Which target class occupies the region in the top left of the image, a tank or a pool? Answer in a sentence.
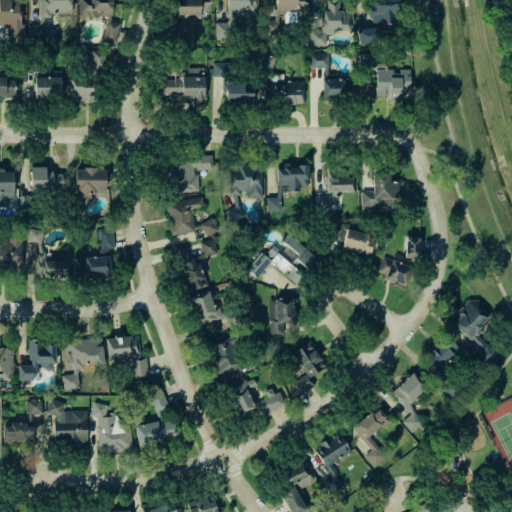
You can see a pool in the top left of the image.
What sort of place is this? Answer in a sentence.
This image shows a residential area.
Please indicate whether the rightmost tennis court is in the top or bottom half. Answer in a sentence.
The bottom half of the photo is where the rightmost tennis court is.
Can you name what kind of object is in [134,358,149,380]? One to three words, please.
building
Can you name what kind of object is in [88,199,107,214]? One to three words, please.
swimming pool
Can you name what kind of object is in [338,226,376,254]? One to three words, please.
house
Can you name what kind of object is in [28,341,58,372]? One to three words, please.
house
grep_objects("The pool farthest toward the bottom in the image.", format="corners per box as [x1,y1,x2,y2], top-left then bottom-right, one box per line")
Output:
[34,375,57,391]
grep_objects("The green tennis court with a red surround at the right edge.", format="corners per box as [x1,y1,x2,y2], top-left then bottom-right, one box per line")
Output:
[484,398,512,467]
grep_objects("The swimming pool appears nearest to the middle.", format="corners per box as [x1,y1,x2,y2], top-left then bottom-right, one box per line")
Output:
[263,230,284,246]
